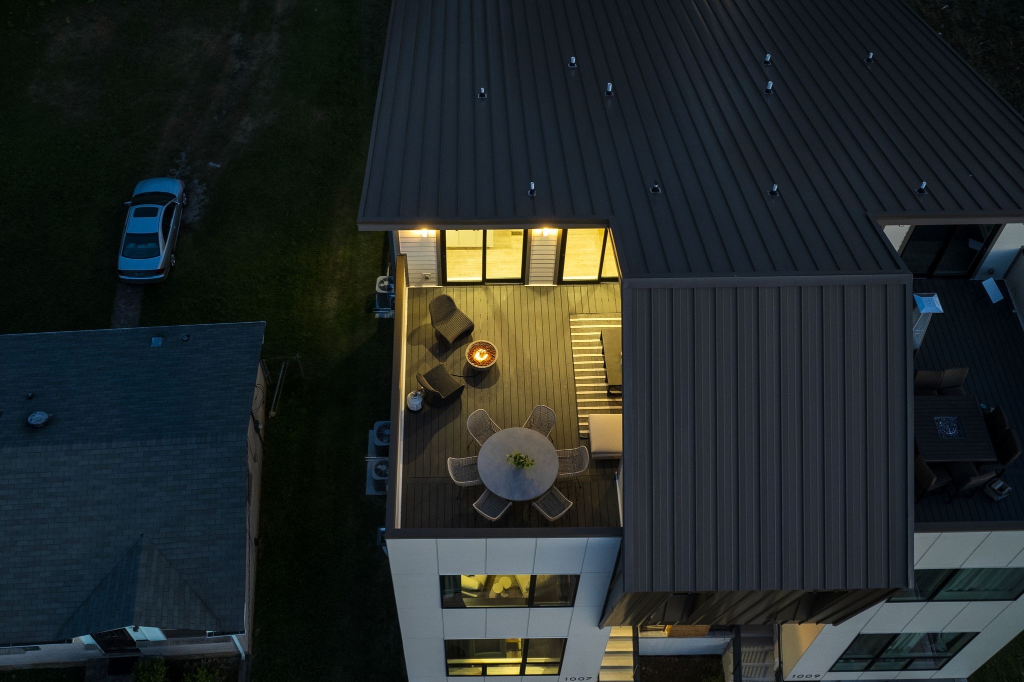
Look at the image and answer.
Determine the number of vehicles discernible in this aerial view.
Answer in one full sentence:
In total, there is 1 vehicle in the scene.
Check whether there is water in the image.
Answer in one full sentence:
No, the picture contains no water.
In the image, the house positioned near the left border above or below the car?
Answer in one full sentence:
The house positioned near the left border is located below the car in this view.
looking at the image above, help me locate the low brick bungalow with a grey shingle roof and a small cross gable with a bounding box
[0,321,267,682]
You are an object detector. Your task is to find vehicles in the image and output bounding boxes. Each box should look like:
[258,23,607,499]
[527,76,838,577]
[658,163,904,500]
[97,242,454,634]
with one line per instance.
[119,181,188,288]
